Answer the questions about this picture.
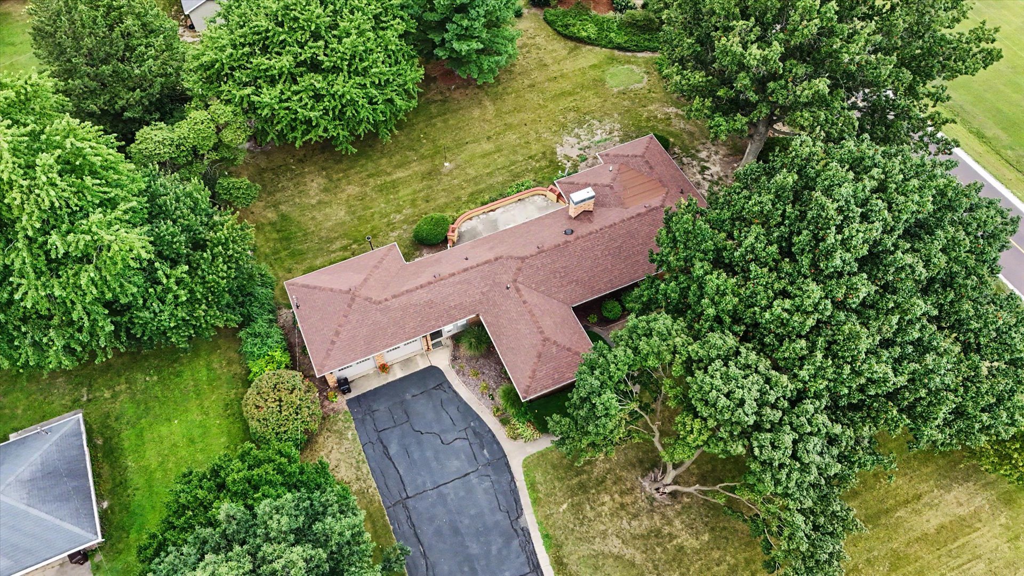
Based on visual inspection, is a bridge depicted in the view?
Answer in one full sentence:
No, I can't see a single bridge in this photo.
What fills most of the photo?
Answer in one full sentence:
The scene is dominated by trees.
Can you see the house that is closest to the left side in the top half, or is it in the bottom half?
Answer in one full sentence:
The house that is closest to the left side sits in the bottom half of the picture.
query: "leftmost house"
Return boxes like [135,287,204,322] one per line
[0,410,110,576]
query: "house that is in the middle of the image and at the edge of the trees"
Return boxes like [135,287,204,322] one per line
[284,133,735,405]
